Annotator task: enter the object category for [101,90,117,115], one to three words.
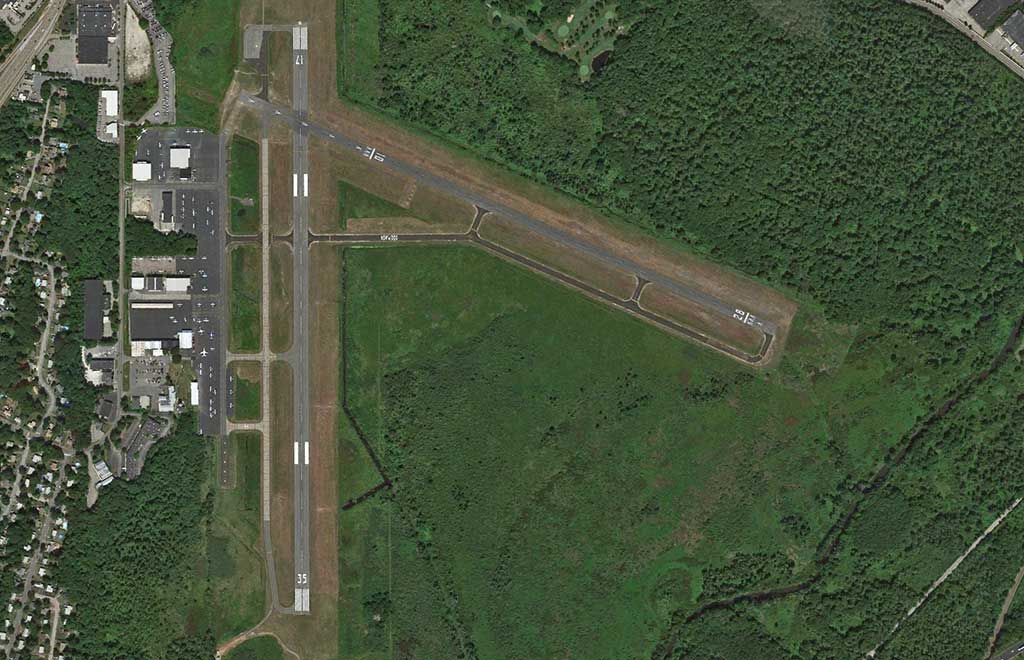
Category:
building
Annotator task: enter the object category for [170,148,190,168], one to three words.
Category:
hangar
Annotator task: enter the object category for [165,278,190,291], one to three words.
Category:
hangar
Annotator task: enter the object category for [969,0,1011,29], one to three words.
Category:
building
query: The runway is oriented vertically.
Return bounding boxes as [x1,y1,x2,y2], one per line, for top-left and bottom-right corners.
[293,24,309,614]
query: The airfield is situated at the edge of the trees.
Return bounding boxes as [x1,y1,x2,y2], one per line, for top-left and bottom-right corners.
[124,0,777,616]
